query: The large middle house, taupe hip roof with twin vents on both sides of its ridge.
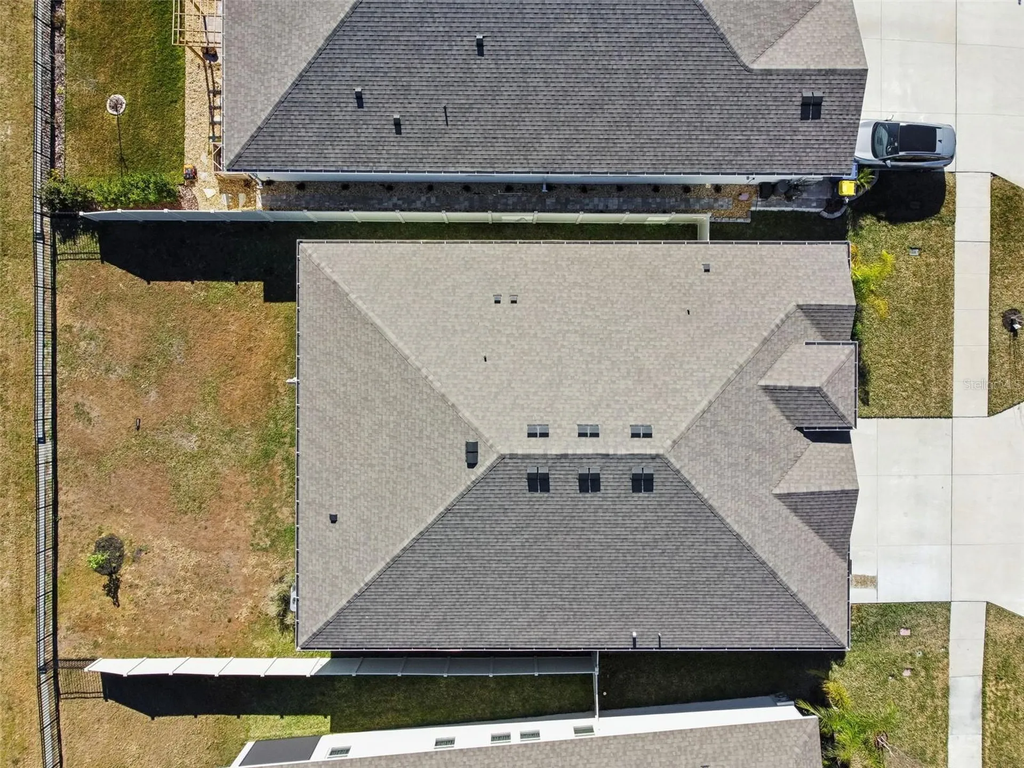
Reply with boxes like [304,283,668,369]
[287,241,858,650]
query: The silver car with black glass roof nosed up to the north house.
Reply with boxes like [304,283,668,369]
[852,112,957,172]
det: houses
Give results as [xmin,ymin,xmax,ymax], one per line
[287,241,858,650]
[228,694,822,768]
[223,0,867,193]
